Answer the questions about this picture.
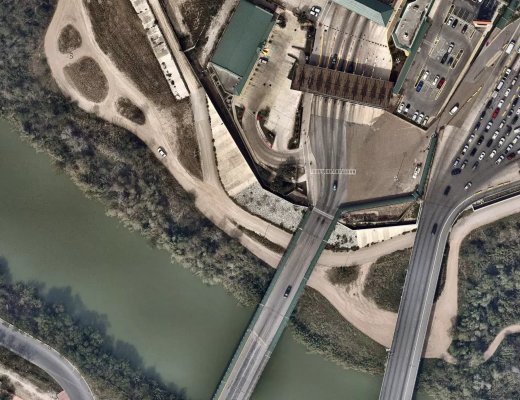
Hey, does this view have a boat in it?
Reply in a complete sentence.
No, no boat is visible in the view.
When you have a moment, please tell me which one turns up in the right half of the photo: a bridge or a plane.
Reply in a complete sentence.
It is a bridge that can be seen in the right half of the photo.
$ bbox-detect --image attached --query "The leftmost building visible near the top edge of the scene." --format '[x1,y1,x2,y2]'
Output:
[210,0,273,94]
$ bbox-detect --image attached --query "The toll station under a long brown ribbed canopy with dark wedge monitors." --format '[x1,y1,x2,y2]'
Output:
[288,58,395,108]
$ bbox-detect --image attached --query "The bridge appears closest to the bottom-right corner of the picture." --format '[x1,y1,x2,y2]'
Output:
[379,178,520,400]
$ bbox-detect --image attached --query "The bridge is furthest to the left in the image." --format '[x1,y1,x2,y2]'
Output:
[213,208,341,400]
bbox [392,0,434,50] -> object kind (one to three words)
building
